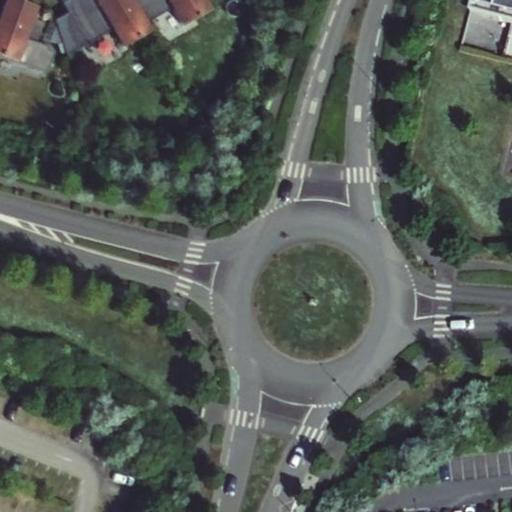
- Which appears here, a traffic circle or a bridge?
traffic circle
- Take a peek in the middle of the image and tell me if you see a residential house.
No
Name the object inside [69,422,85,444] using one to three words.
car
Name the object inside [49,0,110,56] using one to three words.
house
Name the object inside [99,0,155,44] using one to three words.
house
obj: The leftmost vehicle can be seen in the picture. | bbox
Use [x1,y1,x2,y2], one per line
[2,402,16,422]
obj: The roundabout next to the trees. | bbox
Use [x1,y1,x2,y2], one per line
[218,205,410,397]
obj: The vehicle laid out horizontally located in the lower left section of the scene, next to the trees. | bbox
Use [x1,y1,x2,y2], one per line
[112,473,136,486]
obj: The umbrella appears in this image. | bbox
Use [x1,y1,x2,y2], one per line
[98,40,112,53]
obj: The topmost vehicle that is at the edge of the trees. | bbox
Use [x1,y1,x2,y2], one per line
[279,179,292,200]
